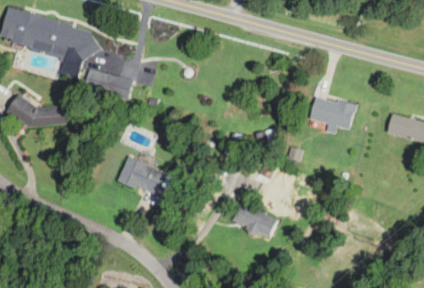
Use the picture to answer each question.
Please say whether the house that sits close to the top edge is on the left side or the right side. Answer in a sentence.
The house that sits close to the top edge is on the left side of the image.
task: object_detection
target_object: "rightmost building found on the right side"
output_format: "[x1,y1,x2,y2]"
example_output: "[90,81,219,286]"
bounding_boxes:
[388,114,424,142]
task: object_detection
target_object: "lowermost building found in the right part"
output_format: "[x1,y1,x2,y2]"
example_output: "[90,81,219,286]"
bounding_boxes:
[234,208,278,238]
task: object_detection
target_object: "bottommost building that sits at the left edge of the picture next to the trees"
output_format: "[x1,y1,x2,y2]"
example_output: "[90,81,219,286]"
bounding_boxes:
[6,96,67,134]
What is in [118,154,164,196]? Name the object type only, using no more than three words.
house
